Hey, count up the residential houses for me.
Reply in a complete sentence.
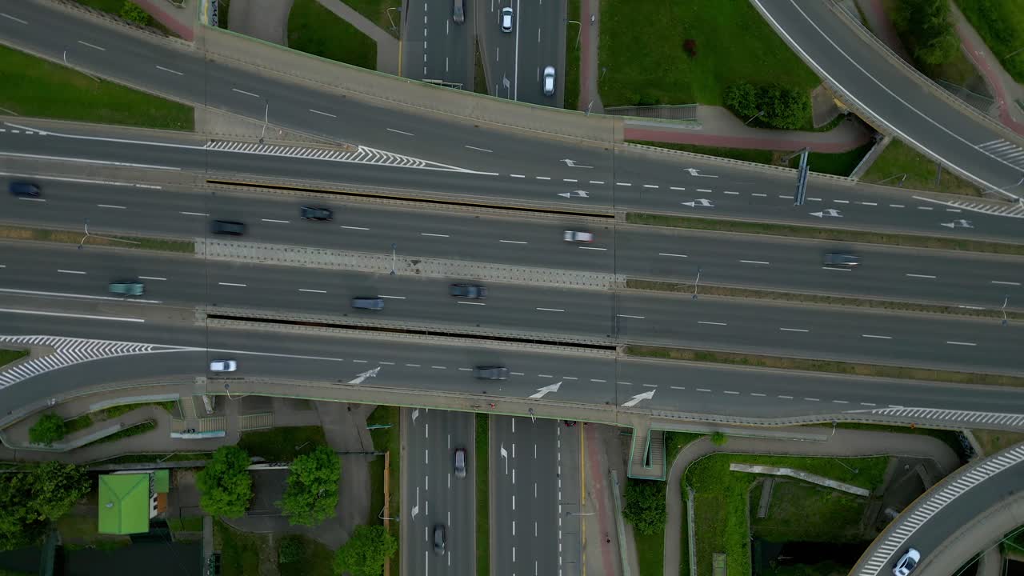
I count just 1 residential house.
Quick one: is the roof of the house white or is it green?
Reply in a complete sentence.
In this view, the roof of the house is green.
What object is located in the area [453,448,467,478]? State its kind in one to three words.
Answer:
car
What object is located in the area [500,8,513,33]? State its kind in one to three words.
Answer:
vehicle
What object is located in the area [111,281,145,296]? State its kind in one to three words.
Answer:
car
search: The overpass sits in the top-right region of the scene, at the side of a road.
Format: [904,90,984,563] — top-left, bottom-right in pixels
[746,0,1024,214]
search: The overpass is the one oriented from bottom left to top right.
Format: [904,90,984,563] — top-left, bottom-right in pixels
[844,438,1024,576]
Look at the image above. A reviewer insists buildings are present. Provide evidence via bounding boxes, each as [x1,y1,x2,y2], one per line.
[98,469,174,535]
